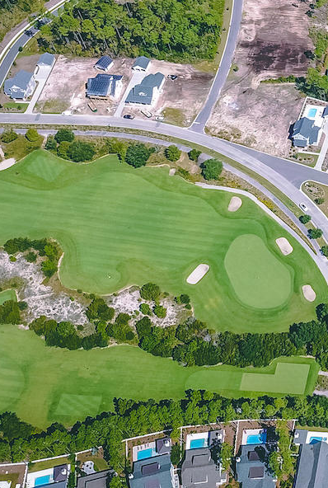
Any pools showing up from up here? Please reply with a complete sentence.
Yes, I can see a pool in this picture.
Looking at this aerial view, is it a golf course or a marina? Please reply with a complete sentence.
This image shows a golf course.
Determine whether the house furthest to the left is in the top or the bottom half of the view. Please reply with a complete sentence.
Seen from above, the house furthest to the left lies in the top half of the view.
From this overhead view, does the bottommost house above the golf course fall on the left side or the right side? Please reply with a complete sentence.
It is on the right.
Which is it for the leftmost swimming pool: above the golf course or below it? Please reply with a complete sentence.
In the image, the leftmost swimming pool appears below the golf course.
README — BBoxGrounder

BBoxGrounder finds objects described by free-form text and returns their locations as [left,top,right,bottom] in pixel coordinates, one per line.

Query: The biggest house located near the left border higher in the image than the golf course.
[1,67,38,101]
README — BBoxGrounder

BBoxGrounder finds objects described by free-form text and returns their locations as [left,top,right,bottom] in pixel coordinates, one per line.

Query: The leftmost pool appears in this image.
[27,467,67,488]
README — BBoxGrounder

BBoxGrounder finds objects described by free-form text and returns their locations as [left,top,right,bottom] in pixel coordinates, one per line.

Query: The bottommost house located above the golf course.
[293,116,320,148]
